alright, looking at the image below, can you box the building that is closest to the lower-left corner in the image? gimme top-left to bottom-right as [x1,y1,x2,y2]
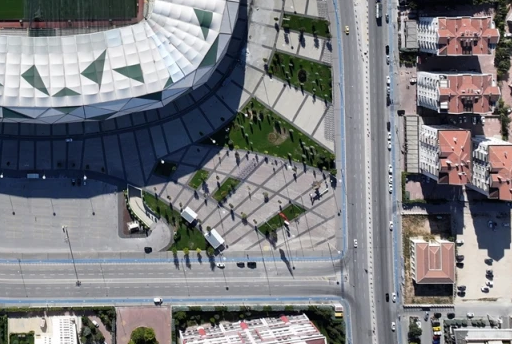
[35,314,81,344]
